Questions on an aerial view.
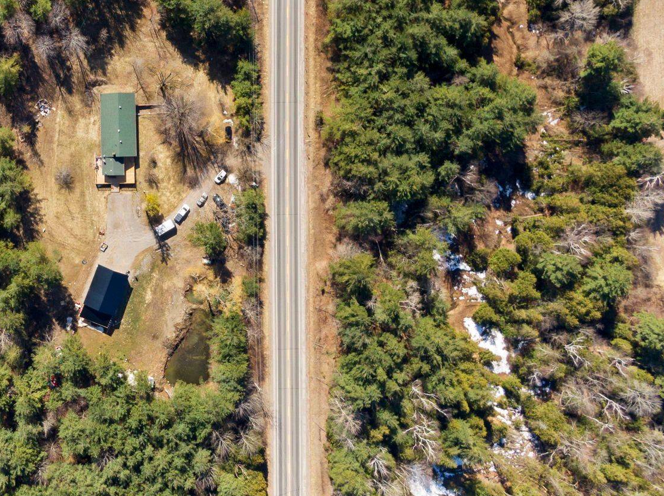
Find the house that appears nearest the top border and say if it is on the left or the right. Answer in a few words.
left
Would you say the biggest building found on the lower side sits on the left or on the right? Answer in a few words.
left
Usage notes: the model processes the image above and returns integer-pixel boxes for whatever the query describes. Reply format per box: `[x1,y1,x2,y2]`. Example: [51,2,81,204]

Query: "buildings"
[77,265,128,332]
[98,92,165,190]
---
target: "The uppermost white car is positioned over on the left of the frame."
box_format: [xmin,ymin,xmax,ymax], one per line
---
[214,169,227,183]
